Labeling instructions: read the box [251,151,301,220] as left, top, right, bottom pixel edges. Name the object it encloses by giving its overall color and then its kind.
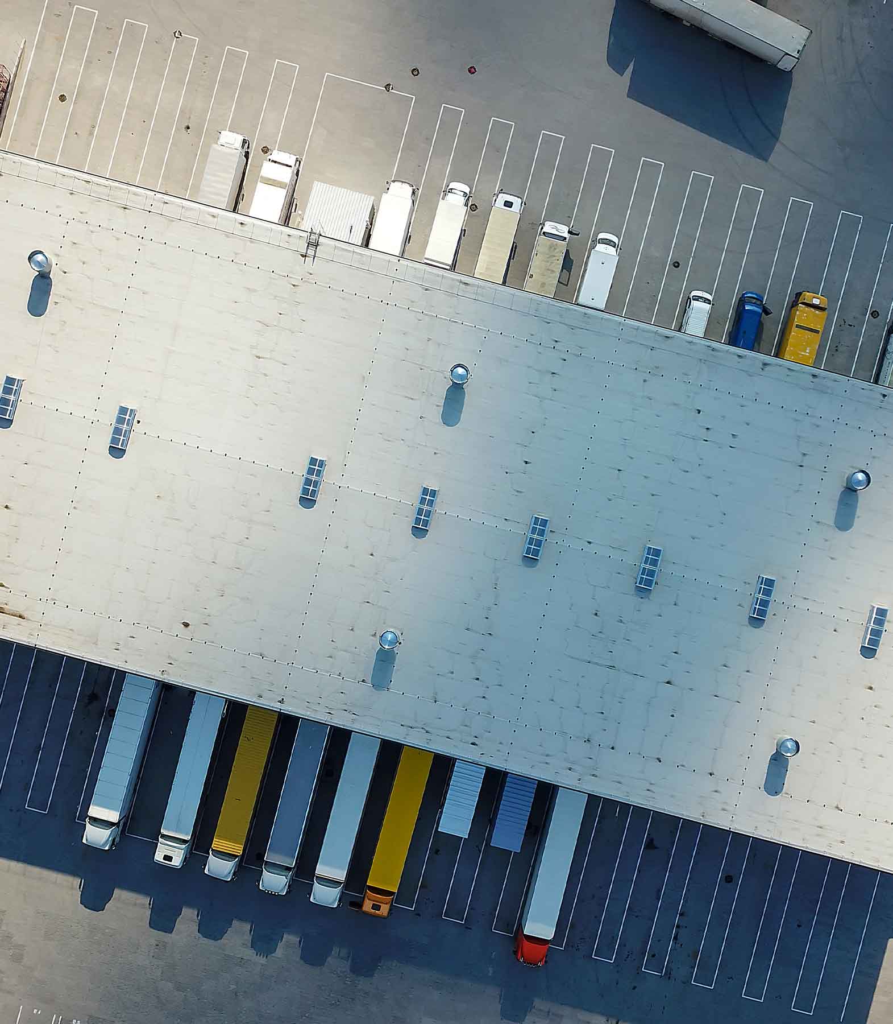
white truck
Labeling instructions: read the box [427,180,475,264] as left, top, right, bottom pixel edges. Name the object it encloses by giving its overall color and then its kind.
white truck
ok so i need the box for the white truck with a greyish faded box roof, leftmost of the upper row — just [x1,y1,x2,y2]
[198,131,251,206]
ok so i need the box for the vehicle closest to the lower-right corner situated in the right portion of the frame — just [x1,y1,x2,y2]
[511,787,591,965]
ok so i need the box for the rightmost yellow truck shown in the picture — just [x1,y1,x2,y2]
[780,292,828,360]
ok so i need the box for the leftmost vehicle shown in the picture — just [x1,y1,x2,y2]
[84,673,164,848]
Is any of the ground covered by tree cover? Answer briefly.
No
